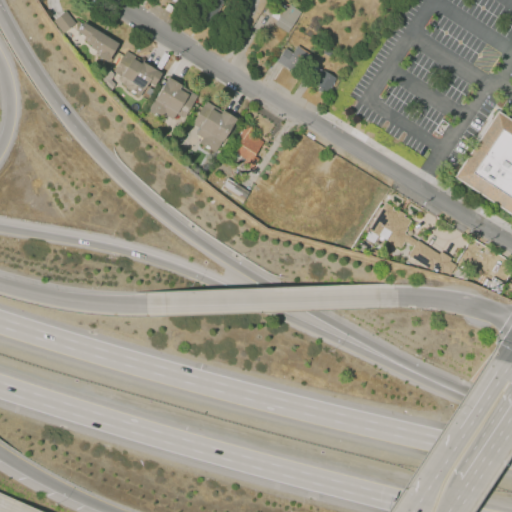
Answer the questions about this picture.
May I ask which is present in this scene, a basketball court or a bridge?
bridge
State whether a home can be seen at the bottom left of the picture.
No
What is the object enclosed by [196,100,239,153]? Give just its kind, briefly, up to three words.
house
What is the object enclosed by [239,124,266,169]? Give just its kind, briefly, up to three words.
house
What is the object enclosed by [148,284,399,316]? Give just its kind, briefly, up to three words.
bridge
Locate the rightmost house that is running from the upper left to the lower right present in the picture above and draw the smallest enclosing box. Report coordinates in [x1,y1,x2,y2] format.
[370,201,460,274]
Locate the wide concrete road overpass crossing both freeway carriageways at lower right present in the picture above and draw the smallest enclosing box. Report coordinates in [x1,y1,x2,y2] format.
[391,360,512,512]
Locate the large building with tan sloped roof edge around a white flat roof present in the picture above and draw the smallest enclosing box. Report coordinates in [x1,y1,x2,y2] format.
[454,110,512,215]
